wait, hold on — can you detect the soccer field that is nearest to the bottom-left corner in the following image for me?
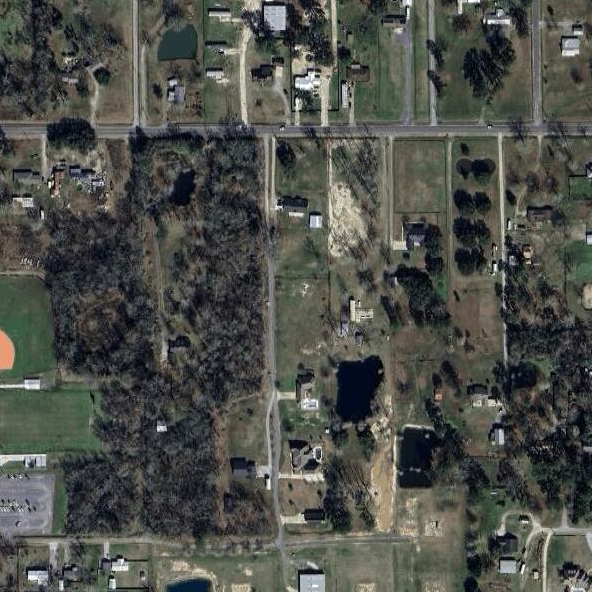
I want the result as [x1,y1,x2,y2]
[0,388,103,454]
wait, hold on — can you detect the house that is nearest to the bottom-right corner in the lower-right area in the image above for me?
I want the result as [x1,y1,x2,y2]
[558,562,592,591]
